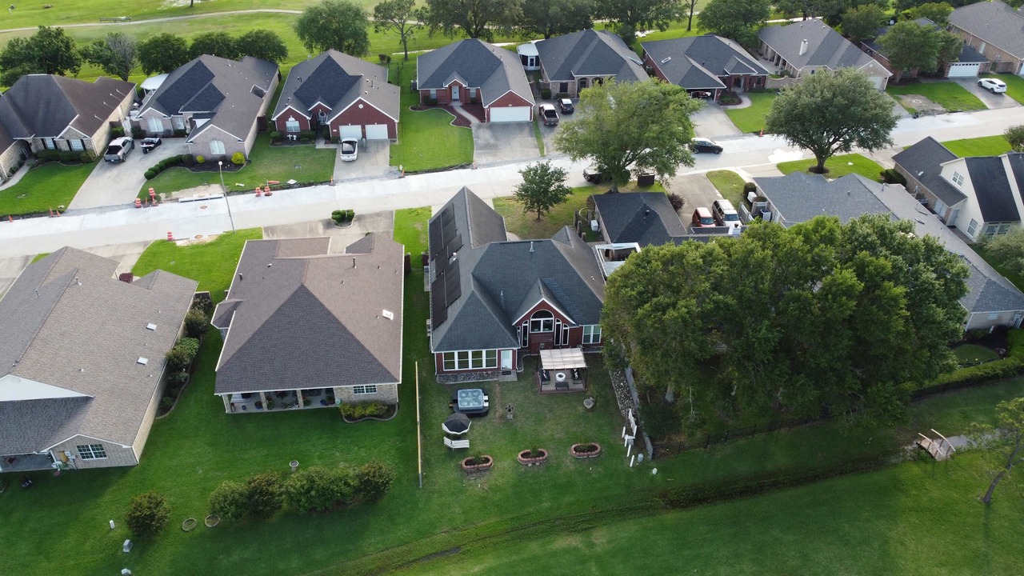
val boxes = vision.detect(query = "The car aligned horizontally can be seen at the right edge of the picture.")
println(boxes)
[973,75,1016,93]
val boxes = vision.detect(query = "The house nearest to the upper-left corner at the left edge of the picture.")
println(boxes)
[0,62,143,189]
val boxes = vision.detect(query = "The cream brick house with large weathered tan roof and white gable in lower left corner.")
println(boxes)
[0,242,201,478]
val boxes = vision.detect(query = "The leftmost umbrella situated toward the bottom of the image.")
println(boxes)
[442,408,470,440]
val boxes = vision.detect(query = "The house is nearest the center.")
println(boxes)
[428,188,618,380]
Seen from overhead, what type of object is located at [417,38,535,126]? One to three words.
house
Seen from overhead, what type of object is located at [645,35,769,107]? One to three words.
house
